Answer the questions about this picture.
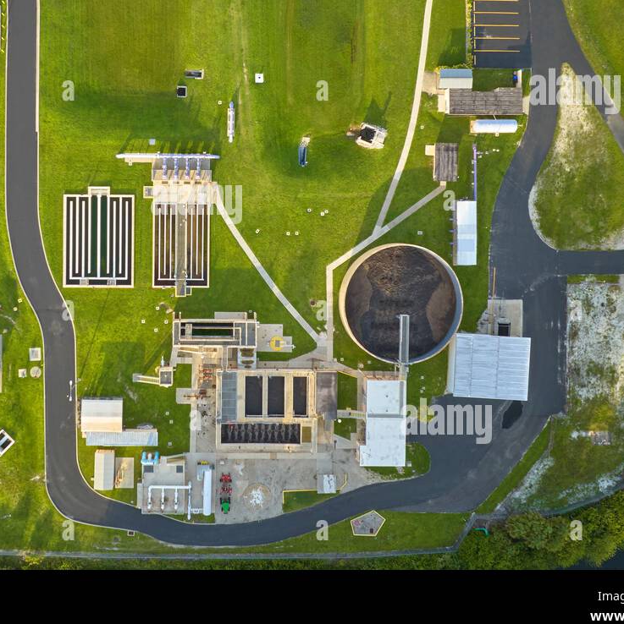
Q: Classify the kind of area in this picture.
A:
industrial area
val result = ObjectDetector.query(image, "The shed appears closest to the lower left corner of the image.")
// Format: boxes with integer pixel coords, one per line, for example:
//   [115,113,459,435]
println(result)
[95,450,115,491]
